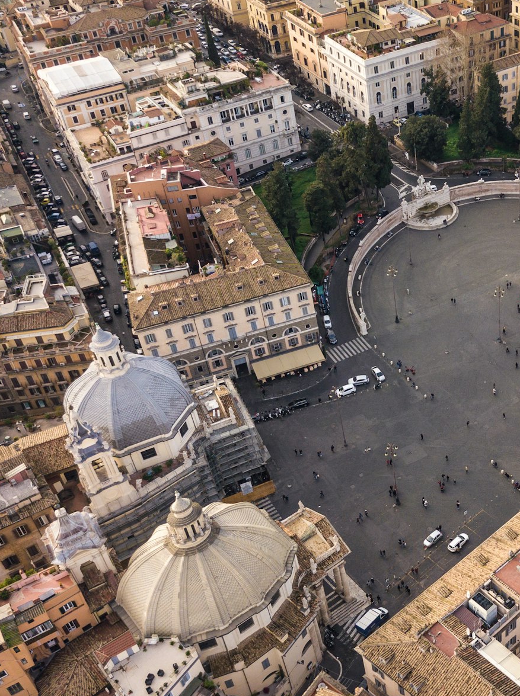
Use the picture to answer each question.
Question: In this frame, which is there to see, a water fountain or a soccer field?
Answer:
water fountain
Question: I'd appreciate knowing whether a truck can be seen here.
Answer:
Yes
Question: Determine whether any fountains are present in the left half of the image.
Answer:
No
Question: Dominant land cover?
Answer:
buildings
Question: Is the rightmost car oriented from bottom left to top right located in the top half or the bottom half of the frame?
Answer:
bottom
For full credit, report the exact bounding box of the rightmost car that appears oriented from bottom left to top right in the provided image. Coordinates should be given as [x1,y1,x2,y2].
[446,533,469,554]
